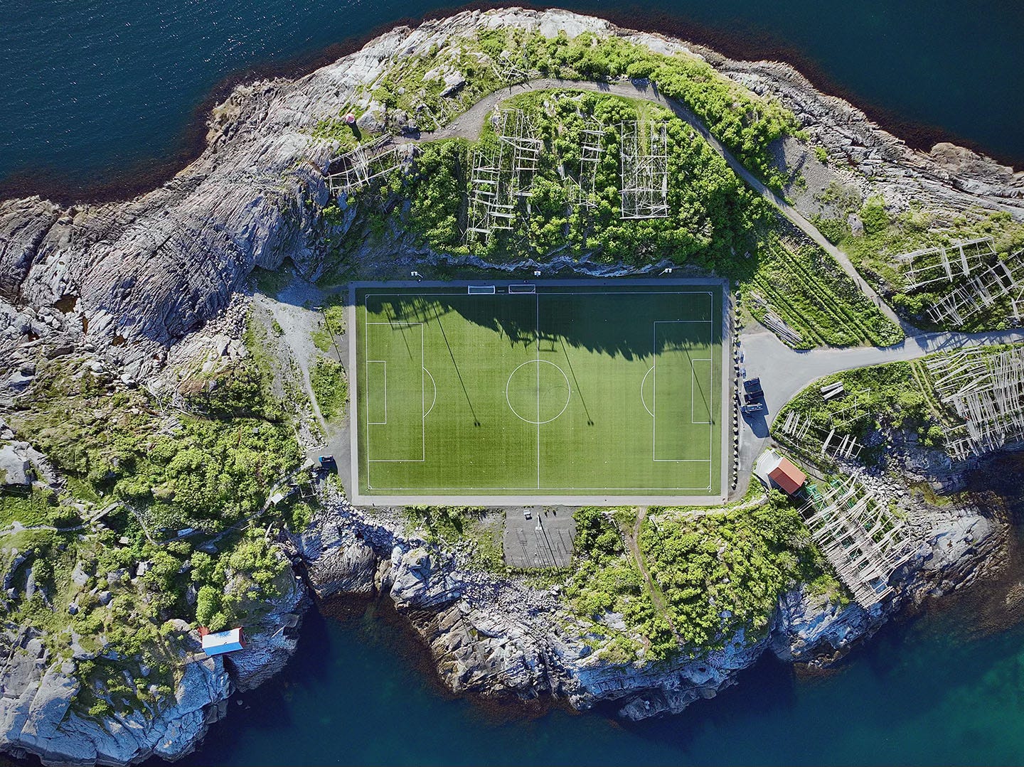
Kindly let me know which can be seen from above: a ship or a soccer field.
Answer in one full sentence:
The image shows a soccer field.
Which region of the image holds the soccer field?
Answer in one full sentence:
You can find the soccer field in the center area of the picture.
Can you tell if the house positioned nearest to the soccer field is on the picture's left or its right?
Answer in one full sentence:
It is on the right.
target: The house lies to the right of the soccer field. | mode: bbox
[755,447,807,495]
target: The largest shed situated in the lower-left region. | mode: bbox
[199,625,247,655]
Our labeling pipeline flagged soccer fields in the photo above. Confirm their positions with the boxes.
[349,279,729,505]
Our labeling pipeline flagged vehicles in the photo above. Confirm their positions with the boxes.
[745,391,765,401]
[318,456,333,463]
[740,403,766,414]
[744,379,762,389]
